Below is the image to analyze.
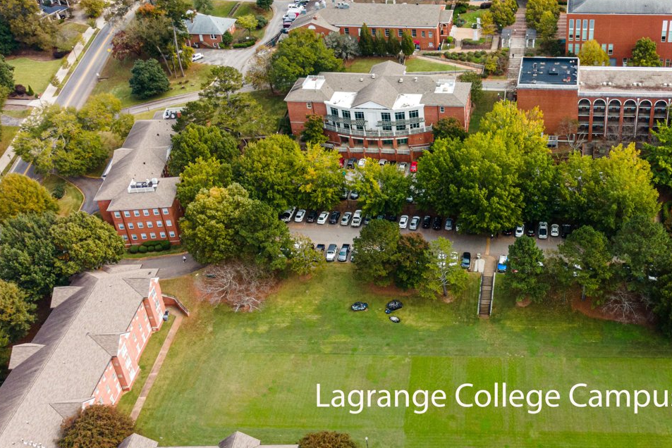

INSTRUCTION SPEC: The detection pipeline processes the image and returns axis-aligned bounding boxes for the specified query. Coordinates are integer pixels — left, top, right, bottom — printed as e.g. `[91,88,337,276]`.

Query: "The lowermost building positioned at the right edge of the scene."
[517,64,672,139]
